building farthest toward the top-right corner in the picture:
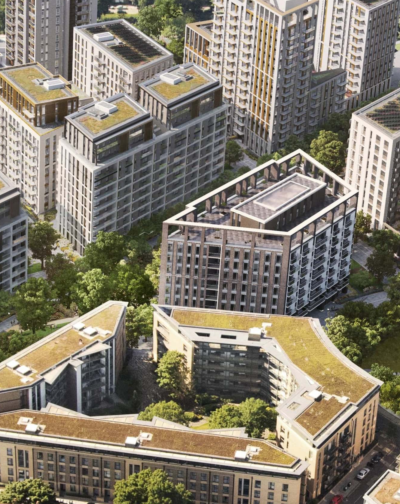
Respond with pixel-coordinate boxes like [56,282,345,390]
[312,0,400,100]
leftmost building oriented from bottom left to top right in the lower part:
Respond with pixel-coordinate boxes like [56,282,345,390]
[0,302,128,416]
